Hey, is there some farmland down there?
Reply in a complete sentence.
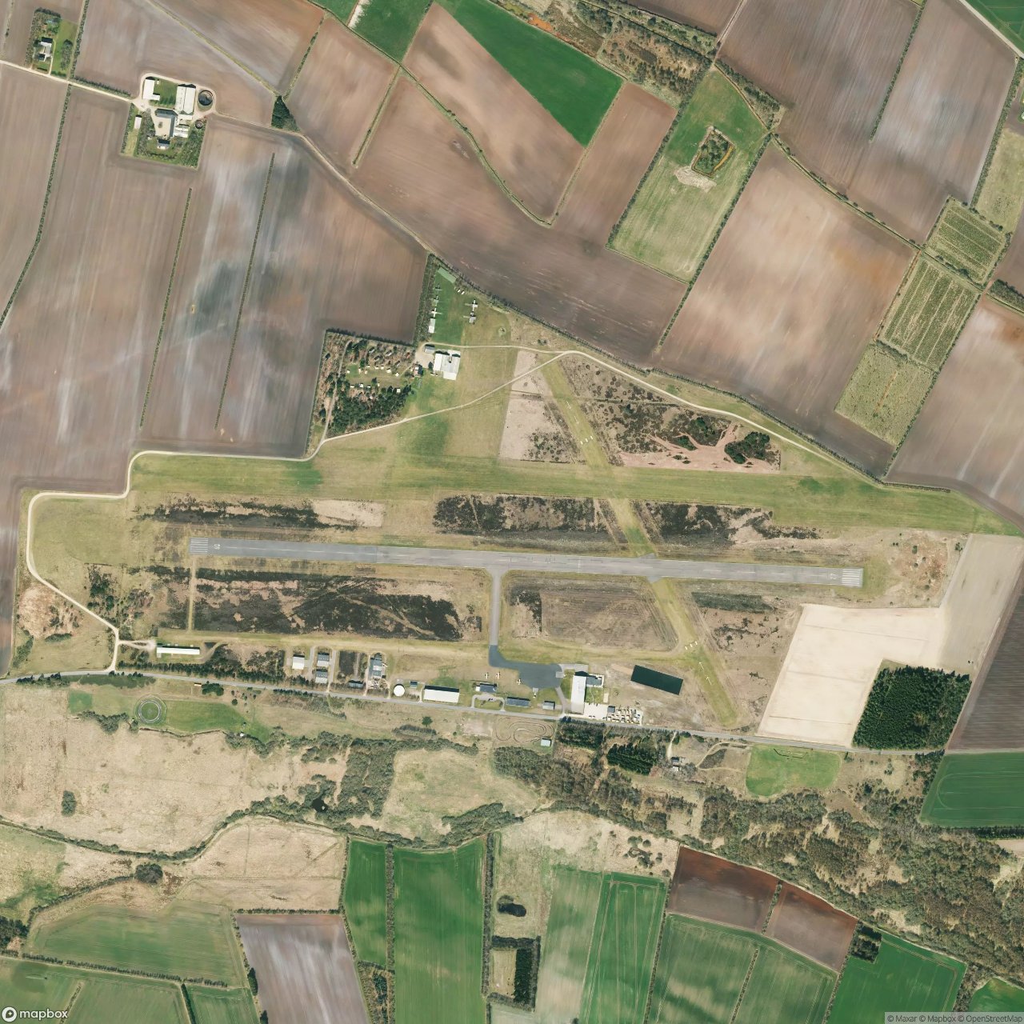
Yes, farmland shows up in the scene.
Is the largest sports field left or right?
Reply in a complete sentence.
The largest sports field appears in the right half of the scene.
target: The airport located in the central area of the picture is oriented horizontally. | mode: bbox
[24,267,1019,731]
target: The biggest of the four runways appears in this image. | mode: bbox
[133,464,1006,530]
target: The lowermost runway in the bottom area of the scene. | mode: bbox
[650,581,733,725]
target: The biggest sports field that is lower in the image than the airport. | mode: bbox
[746,746,840,797]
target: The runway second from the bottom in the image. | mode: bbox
[188,537,863,587]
